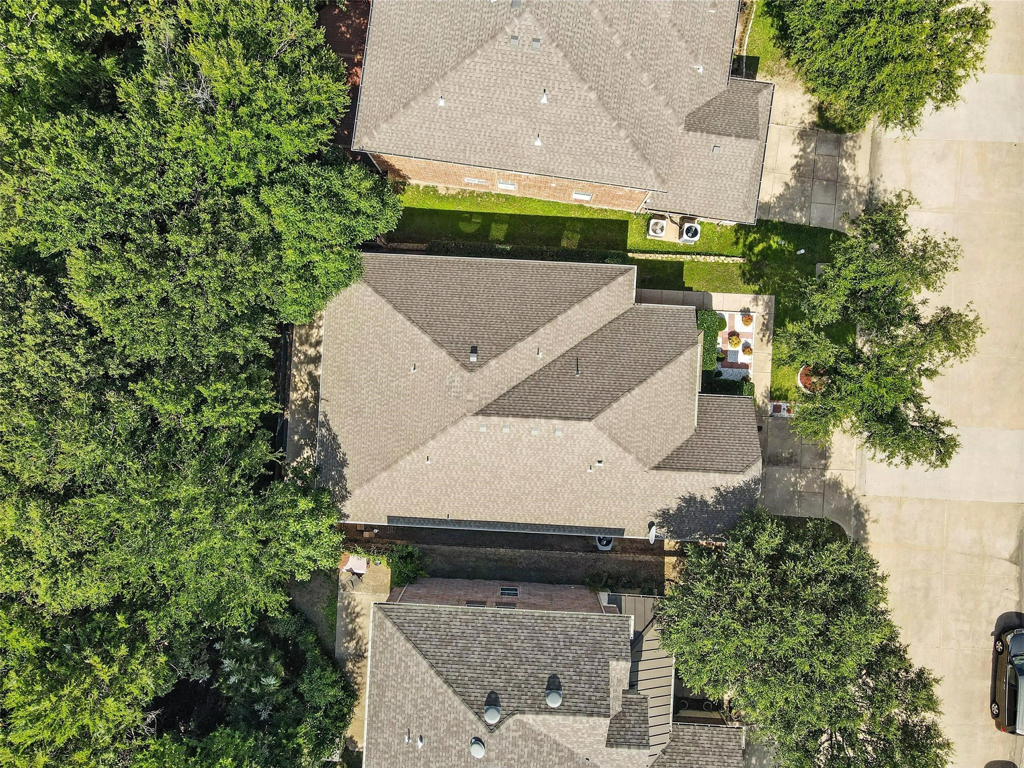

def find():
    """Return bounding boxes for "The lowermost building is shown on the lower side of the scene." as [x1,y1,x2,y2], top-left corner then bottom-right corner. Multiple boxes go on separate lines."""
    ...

[358,585,747,768]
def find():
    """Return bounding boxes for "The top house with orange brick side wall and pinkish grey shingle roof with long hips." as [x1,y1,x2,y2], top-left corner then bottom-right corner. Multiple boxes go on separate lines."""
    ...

[350,0,777,227]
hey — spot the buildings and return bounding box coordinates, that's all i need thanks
[350,0,777,227]
[358,585,747,768]
[313,252,763,544]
